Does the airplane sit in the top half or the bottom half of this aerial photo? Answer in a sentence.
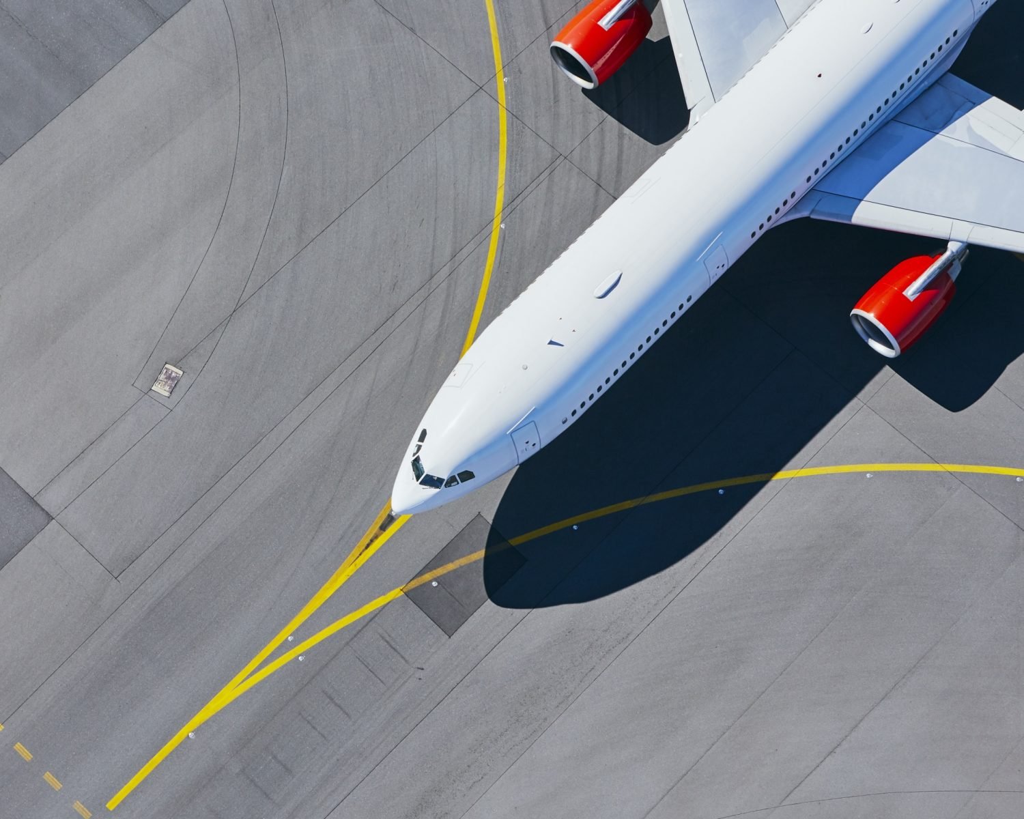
The airplane is in the top half of the image.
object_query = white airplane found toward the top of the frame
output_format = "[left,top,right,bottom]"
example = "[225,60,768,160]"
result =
[391,0,1024,515]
